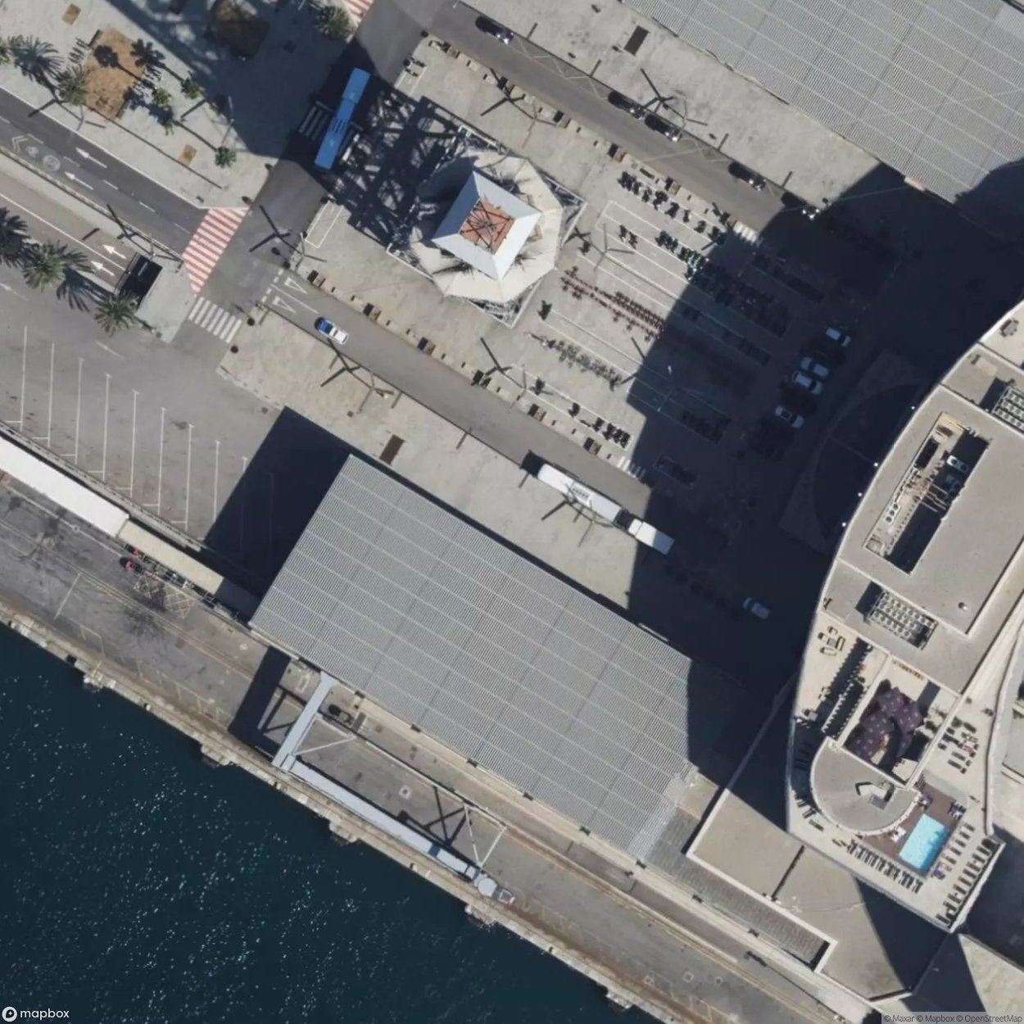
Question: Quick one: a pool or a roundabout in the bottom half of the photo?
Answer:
pool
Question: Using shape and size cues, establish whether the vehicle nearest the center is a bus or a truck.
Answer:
bus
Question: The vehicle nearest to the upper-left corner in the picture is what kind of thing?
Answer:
bus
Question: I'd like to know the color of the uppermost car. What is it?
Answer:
black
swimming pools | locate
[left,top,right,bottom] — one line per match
[898,812,951,872]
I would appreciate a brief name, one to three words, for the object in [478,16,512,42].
car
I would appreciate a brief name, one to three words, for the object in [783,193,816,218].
car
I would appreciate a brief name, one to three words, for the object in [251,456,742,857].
building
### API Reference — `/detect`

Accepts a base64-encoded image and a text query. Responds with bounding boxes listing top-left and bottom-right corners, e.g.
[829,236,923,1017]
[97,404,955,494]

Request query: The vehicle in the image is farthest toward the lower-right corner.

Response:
[740,596,772,621]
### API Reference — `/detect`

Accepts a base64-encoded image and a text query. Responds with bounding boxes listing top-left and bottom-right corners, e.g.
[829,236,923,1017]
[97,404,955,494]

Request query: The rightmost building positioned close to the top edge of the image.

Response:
[622,0,1024,243]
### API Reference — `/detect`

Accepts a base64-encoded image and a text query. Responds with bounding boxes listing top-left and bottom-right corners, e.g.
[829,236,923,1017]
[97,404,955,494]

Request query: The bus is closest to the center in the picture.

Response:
[537,463,621,522]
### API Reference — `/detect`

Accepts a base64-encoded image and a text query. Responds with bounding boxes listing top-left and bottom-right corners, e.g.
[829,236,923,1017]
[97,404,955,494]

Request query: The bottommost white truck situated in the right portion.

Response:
[625,517,673,554]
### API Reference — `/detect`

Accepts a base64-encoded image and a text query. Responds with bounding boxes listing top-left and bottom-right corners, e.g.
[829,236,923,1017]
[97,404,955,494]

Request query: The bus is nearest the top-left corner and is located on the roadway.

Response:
[315,69,371,170]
